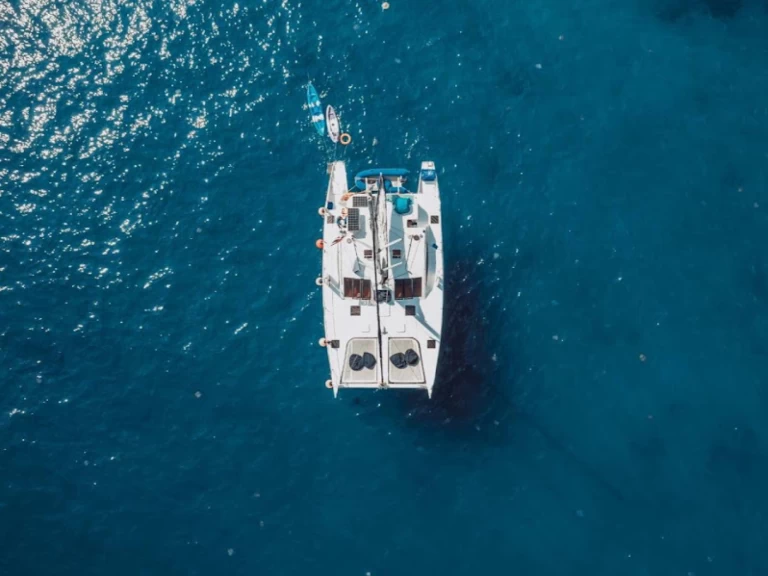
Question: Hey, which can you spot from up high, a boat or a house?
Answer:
boat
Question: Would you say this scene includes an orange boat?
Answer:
No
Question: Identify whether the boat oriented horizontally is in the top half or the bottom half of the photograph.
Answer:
top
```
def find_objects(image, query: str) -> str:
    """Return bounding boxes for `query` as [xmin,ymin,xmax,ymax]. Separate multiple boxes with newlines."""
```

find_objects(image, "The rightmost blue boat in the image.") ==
[348,168,413,193]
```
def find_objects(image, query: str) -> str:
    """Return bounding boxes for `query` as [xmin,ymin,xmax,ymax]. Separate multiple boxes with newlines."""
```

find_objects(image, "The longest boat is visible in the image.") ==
[322,161,443,398]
